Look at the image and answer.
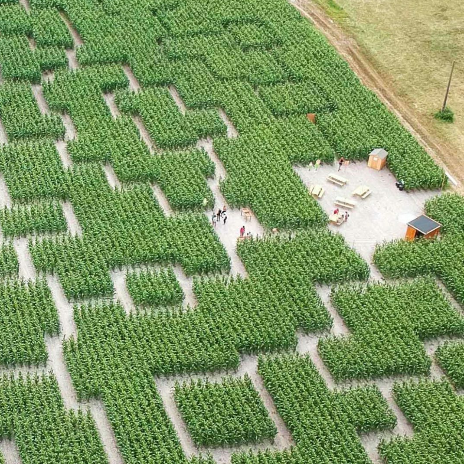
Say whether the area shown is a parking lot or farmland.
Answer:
farmland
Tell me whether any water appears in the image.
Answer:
No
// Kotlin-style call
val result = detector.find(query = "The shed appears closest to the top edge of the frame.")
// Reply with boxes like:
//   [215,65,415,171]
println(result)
[369,146,389,171]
